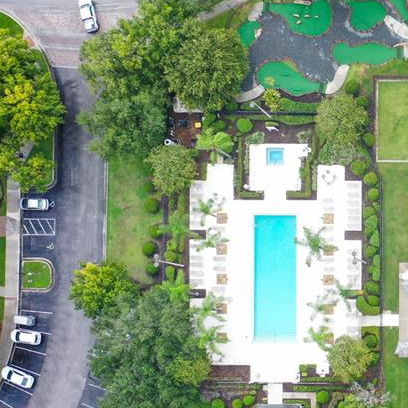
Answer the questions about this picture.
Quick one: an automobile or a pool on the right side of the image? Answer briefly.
pool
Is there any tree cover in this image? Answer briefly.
Yes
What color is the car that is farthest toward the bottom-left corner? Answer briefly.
white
